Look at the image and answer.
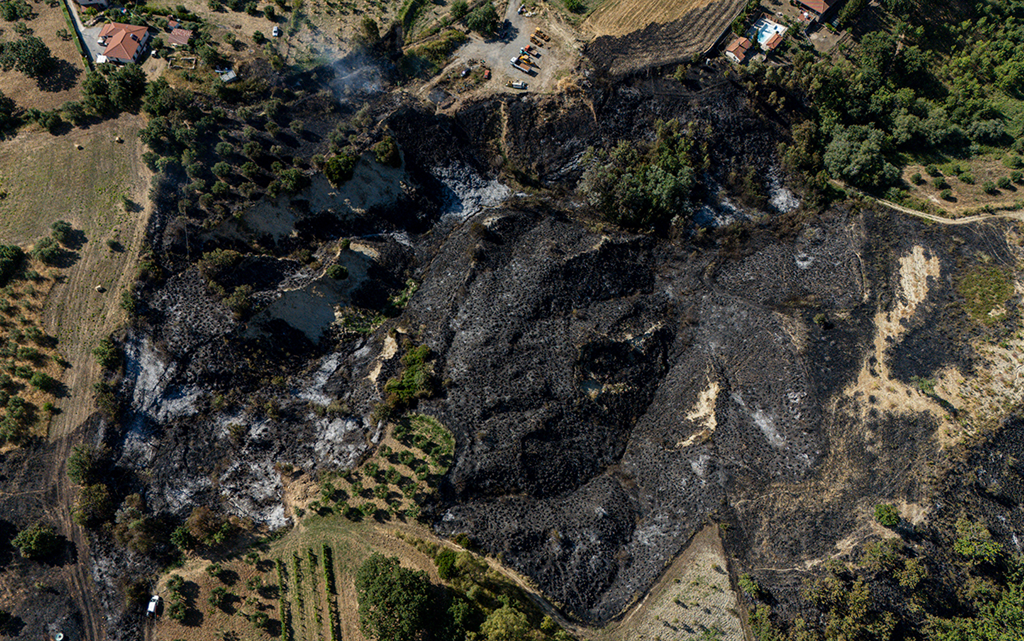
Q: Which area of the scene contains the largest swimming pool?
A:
top right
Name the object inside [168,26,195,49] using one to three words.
shed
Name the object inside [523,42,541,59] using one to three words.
vehicle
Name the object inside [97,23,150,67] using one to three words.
house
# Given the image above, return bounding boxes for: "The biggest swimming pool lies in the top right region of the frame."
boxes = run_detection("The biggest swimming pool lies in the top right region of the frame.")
[748,17,788,51]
